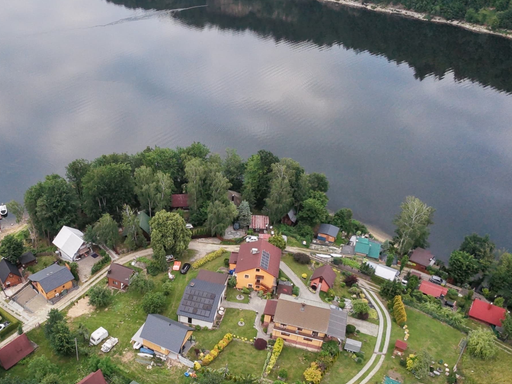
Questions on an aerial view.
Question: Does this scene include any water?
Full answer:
Yes, water shows up in the scene.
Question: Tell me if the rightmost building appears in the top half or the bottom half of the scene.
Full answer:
The rightmost building is in the bottom half of the image.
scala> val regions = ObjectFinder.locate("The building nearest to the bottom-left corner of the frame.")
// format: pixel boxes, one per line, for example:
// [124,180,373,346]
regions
[0,334,35,371]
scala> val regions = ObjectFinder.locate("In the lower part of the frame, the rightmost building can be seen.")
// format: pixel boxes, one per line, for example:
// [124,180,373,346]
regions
[469,297,509,329]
